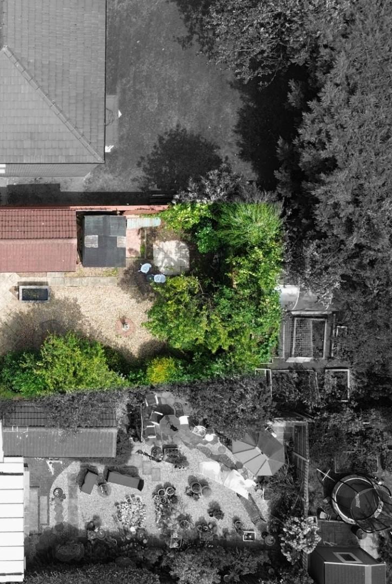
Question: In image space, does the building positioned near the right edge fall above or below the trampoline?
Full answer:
Looking at the photo, you'll find the building positioned near the right edge below the trampoline.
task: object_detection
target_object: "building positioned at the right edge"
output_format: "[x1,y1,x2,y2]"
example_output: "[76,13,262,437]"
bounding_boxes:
[307,548,386,584]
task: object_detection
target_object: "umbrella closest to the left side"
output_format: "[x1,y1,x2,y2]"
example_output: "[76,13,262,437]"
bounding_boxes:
[234,428,286,478]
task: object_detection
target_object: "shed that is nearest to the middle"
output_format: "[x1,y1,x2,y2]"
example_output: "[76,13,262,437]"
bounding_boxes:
[82,216,128,266]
